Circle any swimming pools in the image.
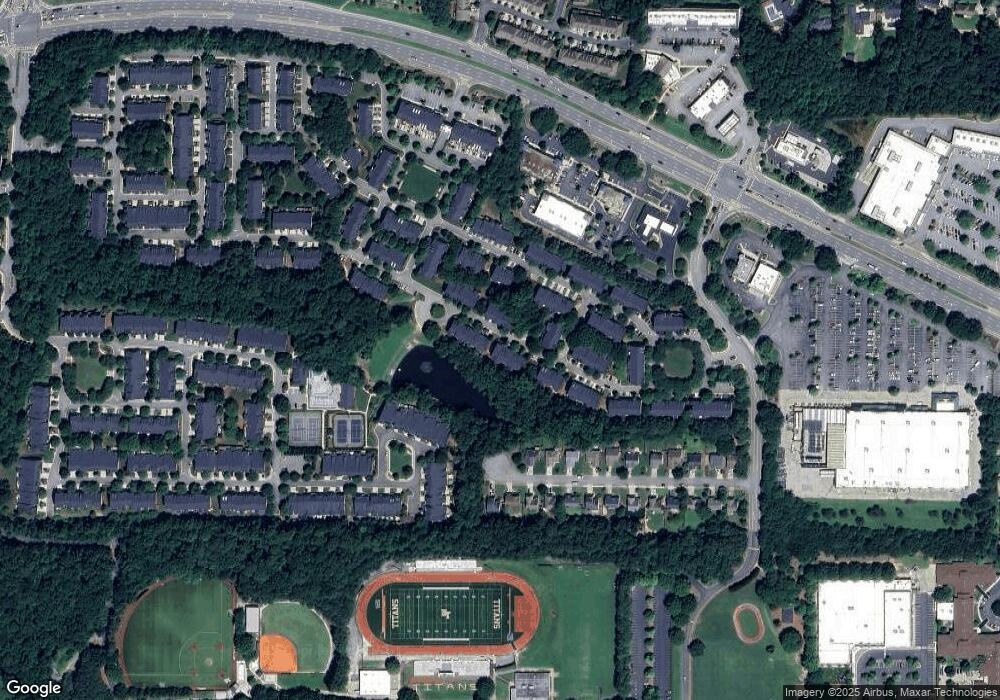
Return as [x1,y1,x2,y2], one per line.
[309,370,340,408]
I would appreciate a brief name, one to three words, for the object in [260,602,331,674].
baseball field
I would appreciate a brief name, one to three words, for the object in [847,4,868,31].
house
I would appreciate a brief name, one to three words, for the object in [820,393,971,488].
building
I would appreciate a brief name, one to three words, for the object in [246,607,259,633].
shed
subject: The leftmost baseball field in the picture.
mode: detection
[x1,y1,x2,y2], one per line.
[117,574,236,692]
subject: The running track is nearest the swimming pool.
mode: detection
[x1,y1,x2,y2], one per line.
[357,571,540,655]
